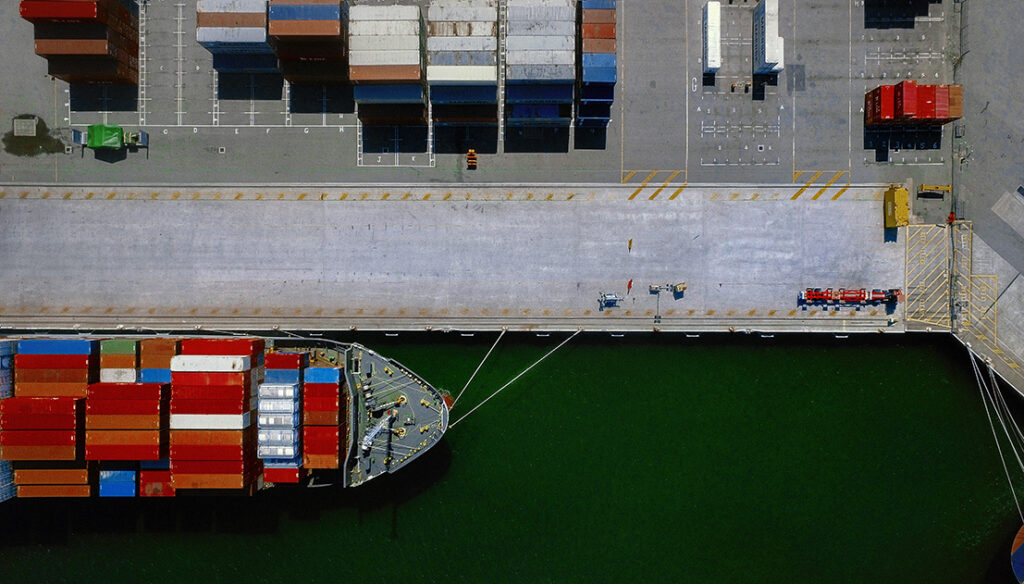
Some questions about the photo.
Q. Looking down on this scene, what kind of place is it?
port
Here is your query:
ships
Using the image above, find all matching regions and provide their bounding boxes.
[0,333,455,498]
[1010,525,1024,584]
